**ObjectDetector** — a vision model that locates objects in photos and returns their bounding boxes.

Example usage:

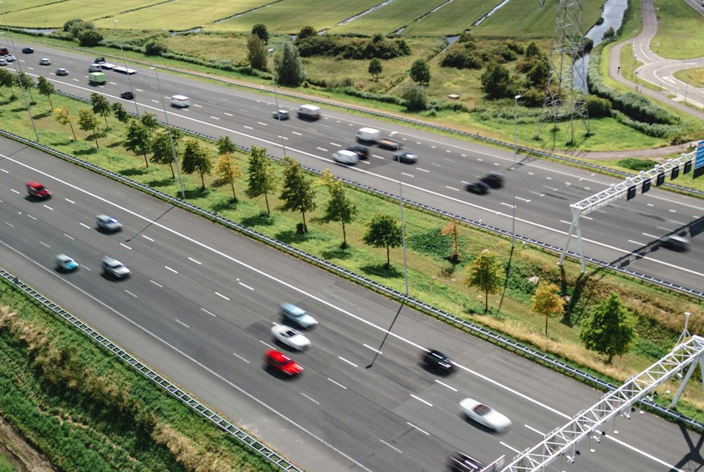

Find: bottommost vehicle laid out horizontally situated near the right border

[659,236,693,252]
